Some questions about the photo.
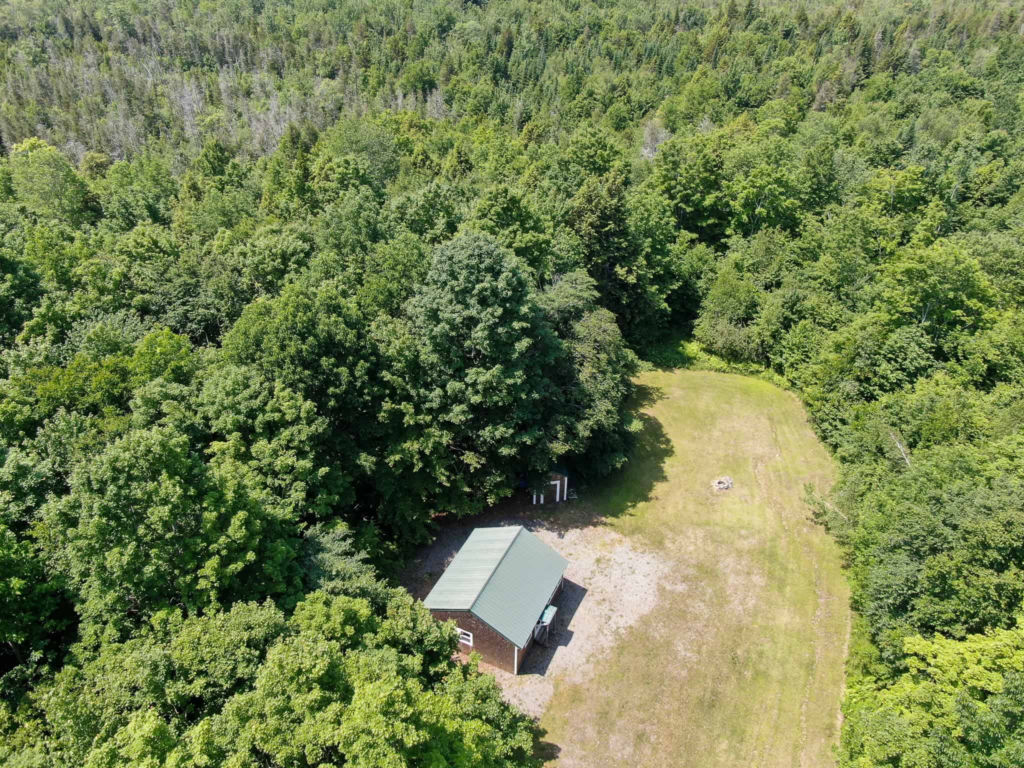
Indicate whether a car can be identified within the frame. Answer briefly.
No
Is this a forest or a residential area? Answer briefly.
forest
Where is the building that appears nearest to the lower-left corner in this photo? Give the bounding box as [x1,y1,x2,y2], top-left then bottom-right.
[422,525,569,675]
